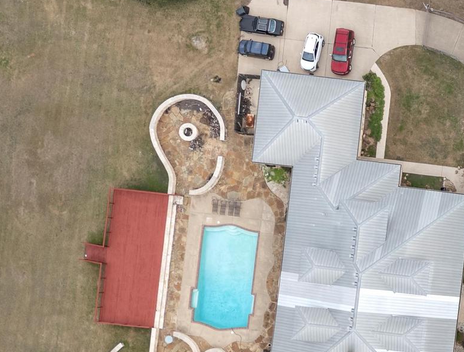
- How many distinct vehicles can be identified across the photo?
4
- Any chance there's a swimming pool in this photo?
Yes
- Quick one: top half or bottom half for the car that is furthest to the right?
top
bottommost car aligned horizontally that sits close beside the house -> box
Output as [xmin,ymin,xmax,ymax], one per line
[238,39,278,61]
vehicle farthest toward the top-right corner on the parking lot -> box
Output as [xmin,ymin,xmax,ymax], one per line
[331,28,356,77]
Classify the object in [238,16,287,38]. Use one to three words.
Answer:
truck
